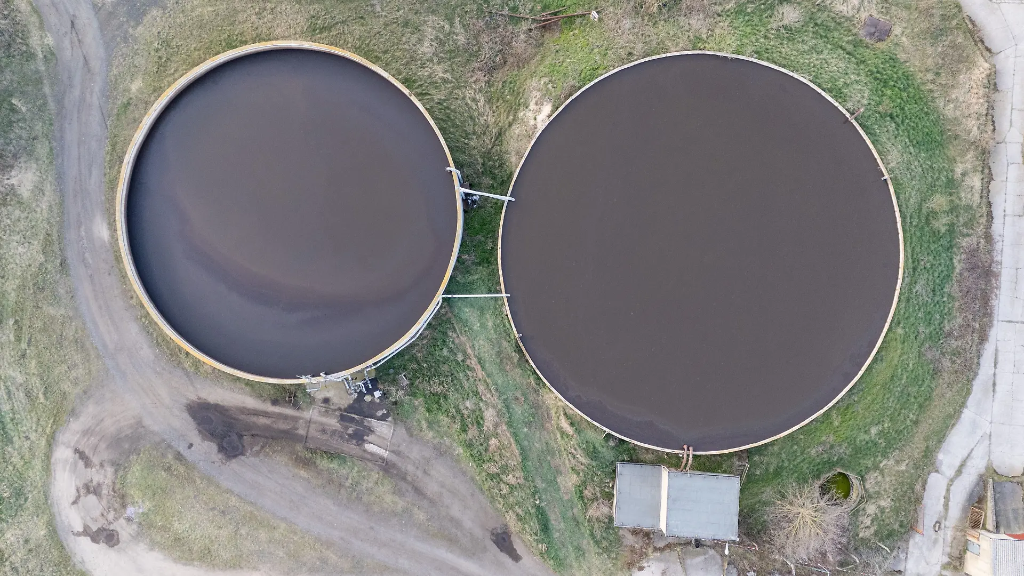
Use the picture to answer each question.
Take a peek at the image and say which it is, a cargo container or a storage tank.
storage tank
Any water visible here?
Yes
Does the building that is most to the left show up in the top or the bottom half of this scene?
bottom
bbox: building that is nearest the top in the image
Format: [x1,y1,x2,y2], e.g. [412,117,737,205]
[611,462,741,544]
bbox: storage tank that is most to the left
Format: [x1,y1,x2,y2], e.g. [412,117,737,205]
[117,40,464,384]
